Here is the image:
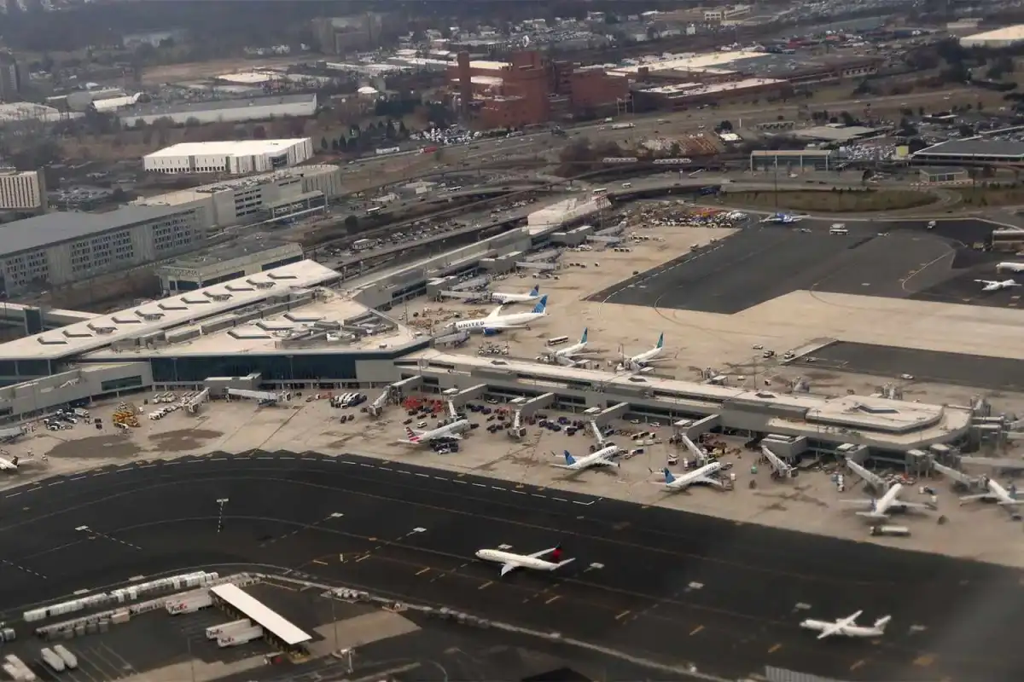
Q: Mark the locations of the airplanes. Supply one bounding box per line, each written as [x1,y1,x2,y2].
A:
[475,540,572,576]
[967,480,1024,506]
[997,264,1024,276]
[445,297,552,335]
[535,330,596,361]
[755,199,811,226]
[493,288,545,306]
[399,421,468,444]
[982,271,1024,294]
[544,444,618,472]
[616,335,674,371]
[0,455,31,472]
[800,609,892,641]
[646,461,720,490]
[840,482,929,515]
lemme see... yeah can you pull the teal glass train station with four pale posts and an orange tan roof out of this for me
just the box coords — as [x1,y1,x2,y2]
[750,151,833,174]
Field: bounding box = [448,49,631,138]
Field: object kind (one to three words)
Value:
building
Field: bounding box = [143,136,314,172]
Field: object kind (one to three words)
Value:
building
